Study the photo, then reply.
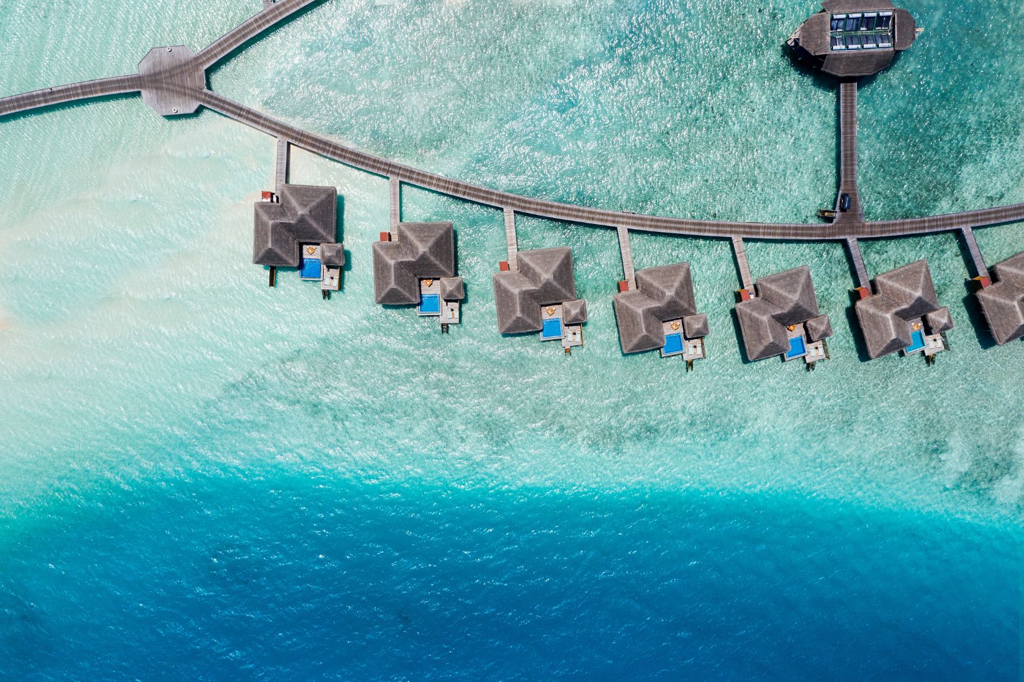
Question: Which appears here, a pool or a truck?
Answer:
pool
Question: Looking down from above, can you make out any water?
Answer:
Yes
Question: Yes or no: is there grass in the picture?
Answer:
No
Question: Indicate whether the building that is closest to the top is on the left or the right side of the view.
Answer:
right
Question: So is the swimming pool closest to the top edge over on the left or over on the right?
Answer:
left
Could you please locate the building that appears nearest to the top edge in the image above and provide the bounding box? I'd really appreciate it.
[778,0,924,77]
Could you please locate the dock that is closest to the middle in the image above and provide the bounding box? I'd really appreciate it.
[503,207,519,272]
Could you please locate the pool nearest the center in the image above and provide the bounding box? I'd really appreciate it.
[539,316,564,341]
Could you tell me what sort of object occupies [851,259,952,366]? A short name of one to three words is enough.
house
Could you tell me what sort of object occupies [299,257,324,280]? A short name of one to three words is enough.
swimming pool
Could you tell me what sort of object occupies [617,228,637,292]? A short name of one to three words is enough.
pier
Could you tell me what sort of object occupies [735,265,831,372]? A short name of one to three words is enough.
house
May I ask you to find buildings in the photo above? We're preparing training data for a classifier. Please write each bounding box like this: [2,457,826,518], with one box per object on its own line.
[613,262,707,372]
[254,184,344,302]
[778,0,924,77]
[373,222,463,335]
[969,249,1024,343]
[851,259,952,366]
[735,265,831,372]
[493,247,586,358]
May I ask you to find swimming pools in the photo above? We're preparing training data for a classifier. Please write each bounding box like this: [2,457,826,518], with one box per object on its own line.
[780,334,808,361]
[658,331,685,356]
[418,292,442,315]
[898,327,927,355]
[299,257,324,280]
[539,316,564,341]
